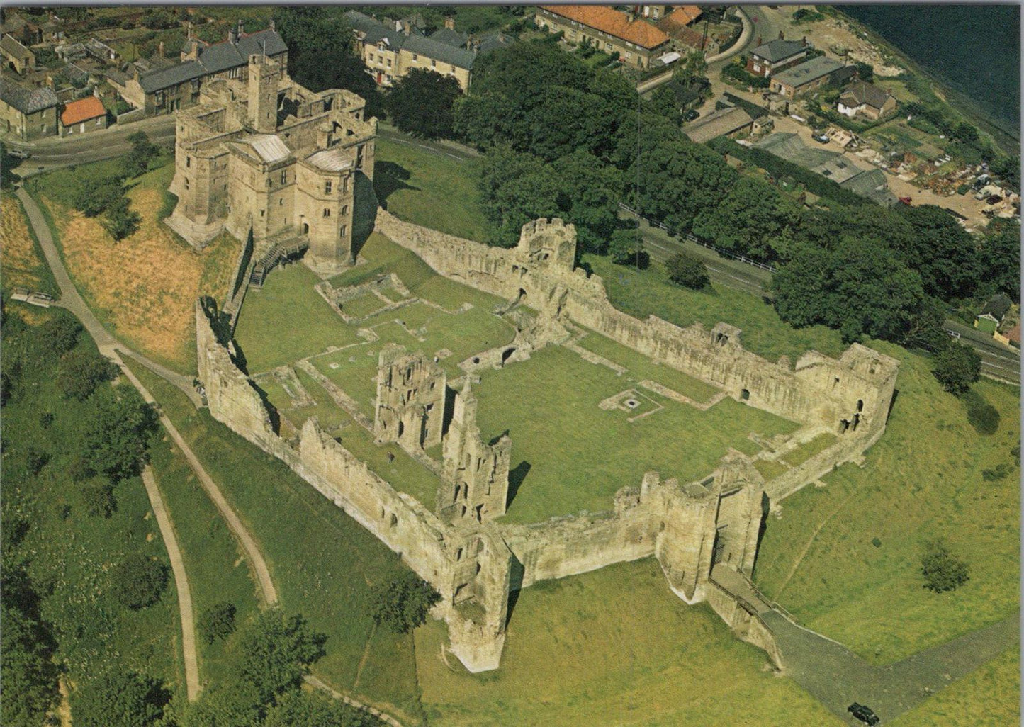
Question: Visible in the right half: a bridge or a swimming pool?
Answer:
bridge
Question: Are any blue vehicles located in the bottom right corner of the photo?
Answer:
No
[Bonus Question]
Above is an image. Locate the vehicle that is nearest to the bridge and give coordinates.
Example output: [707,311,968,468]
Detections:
[846,697,883,726]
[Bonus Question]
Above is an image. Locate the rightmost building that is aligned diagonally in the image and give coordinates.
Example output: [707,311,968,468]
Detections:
[975,287,1020,334]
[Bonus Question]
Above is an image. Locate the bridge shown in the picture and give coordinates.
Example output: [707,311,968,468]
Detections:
[705,559,856,669]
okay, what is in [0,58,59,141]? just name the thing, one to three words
house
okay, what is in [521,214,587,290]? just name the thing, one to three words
building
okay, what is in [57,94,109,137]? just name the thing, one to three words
house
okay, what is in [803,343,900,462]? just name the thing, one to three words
building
